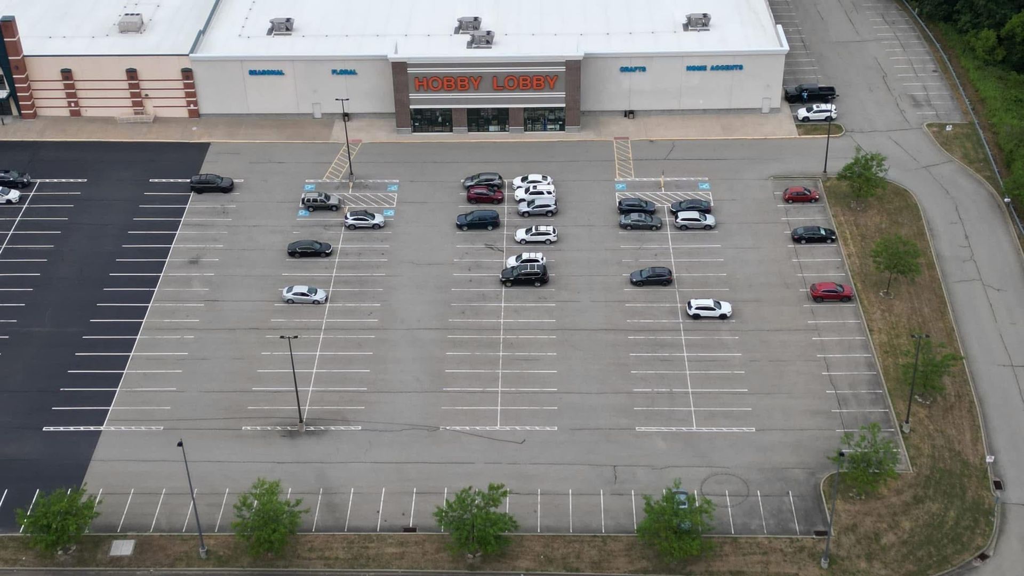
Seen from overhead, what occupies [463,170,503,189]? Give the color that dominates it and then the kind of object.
gray car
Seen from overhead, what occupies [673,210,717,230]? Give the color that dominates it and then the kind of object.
white car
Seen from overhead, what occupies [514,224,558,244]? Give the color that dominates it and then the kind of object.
white car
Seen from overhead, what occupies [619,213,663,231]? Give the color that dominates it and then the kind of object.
gray car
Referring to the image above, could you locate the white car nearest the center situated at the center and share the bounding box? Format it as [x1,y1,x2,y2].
[505,249,546,269]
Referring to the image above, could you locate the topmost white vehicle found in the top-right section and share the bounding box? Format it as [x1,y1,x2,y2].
[796,103,837,122]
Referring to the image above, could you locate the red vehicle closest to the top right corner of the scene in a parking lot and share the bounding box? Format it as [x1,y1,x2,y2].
[782,186,820,203]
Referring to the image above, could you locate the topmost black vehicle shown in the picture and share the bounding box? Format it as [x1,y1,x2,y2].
[783,84,835,103]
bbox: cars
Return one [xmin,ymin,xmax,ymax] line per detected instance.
[782,186,820,203]
[619,213,663,231]
[512,173,552,187]
[673,210,717,230]
[463,170,503,189]
[631,266,674,287]
[514,224,558,244]
[455,210,500,231]
[807,282,854,303]
[685,297,732,319]
[514,181,556,202]
[287,240,333,258]
[616,195,657,215]
[343,211,386,230]
[792,226,837,244]
[667,197,711,214]
[466,185,503,204]
[796,103,837,122]
[281,285,327,304]
[518,198,558,217]
[190,173,235,194]
[301,191,342,212]
[0,168,32,188]
[0,187,20,203]
[505,249,546,269]
[499,263,547,287]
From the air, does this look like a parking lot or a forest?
parking lot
